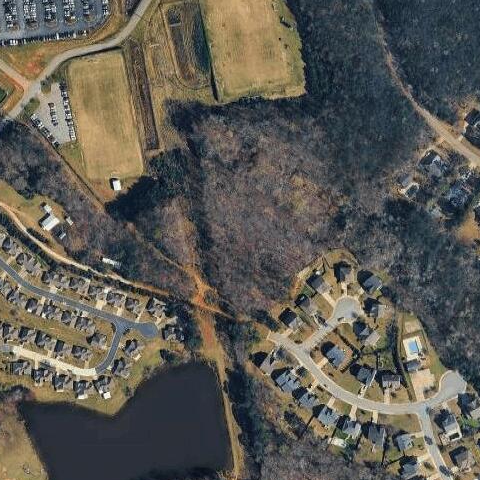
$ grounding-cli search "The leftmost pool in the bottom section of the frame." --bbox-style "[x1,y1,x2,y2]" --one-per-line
[402,336,423,362]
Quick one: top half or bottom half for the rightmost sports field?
top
